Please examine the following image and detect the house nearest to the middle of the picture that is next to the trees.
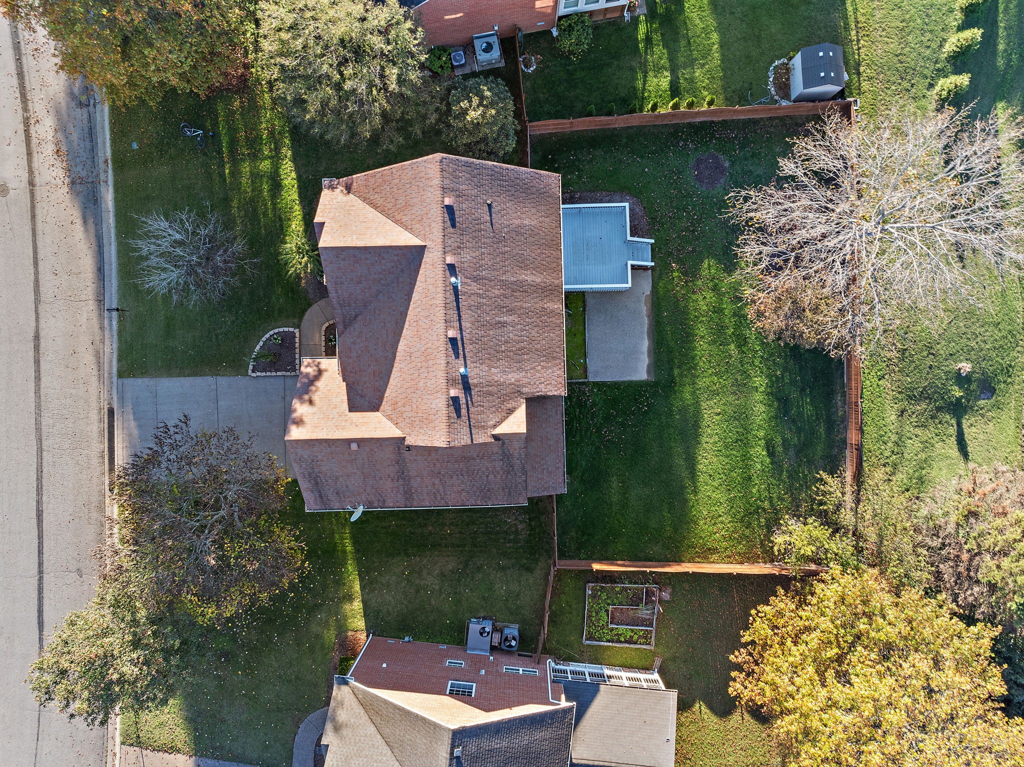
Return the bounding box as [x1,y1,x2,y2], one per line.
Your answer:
[286,152,571,514]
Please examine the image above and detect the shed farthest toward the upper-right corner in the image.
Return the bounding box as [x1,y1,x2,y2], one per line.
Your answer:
[791,42,848,100]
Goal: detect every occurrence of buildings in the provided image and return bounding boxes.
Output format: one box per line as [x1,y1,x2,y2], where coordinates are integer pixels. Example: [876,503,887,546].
[286,152,571,514]
[319,630,677,767]
[403,0,634,51]
[791,42,848,100]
